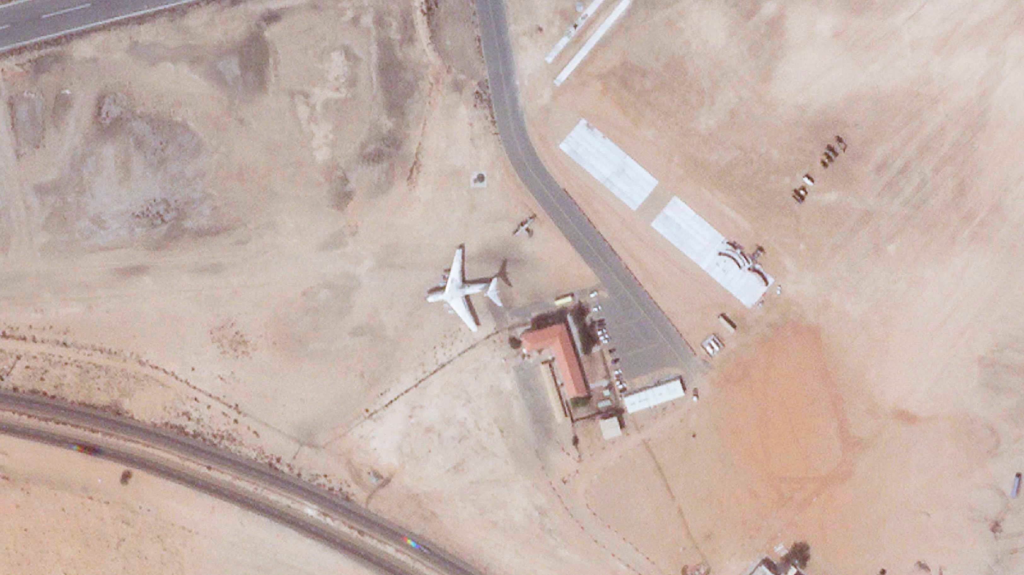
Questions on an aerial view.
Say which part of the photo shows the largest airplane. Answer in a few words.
center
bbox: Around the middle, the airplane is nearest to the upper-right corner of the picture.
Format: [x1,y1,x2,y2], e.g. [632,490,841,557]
[514,218,534,235]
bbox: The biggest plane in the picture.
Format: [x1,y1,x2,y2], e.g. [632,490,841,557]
[427,253,501,330]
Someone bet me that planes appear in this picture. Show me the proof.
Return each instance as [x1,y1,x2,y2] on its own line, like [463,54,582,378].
[427,253,501,330]
[514,218,534,235]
